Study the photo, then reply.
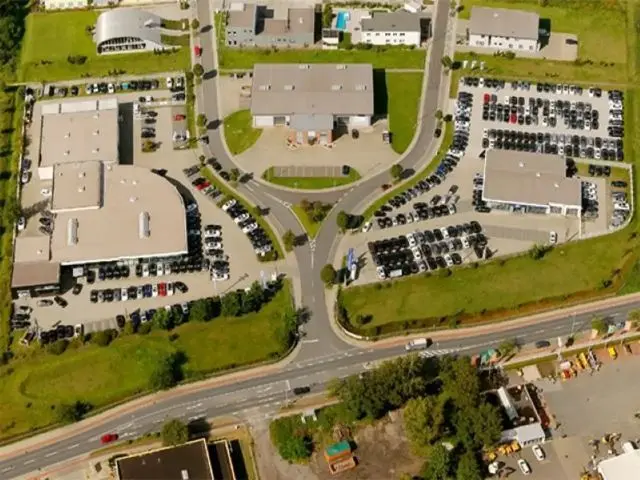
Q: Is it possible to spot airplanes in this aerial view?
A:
No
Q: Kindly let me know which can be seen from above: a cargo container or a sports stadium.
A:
cargo container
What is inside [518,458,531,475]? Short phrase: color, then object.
white vehicle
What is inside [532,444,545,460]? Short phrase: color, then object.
white vehicle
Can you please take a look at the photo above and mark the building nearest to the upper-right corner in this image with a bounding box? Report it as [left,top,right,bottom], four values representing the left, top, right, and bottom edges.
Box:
[468,5,541,52]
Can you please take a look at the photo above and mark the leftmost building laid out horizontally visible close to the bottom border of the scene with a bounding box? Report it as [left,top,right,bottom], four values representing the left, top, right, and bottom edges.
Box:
[115,437,216,480]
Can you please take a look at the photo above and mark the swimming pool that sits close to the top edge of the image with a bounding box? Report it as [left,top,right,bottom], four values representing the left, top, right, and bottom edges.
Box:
[334,10,351,30]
